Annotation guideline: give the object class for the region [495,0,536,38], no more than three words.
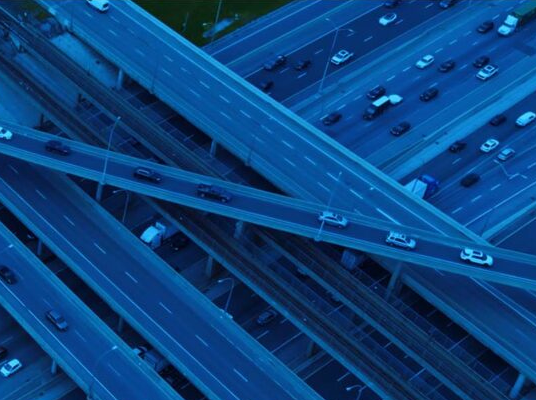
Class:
truck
